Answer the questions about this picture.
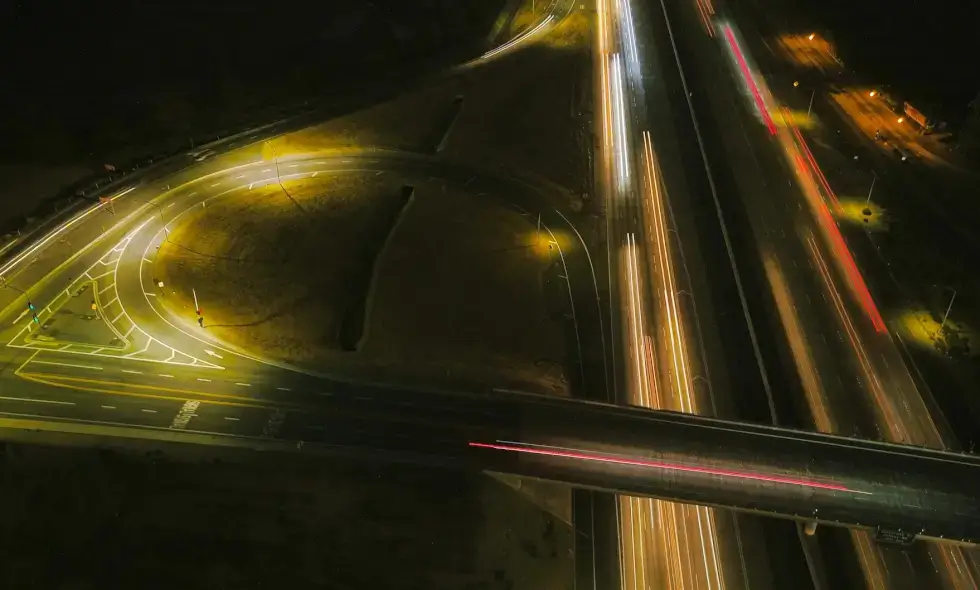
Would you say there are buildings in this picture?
No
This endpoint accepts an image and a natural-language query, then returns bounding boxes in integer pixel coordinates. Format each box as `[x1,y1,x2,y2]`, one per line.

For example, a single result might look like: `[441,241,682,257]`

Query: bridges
[473,388,980,558]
